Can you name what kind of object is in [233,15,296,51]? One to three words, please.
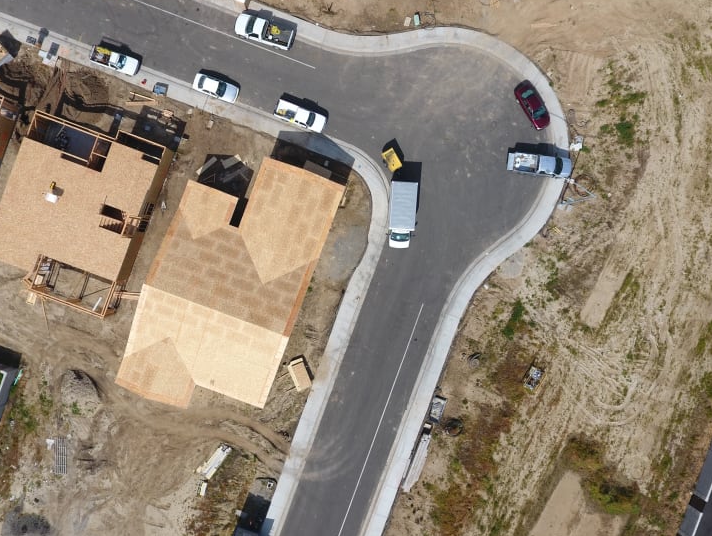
truck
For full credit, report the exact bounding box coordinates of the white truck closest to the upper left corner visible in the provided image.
[88,42,144,77]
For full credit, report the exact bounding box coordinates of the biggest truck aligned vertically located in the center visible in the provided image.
[384,176,418,247]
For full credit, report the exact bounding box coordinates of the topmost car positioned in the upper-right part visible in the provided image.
[513,80,549,133]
